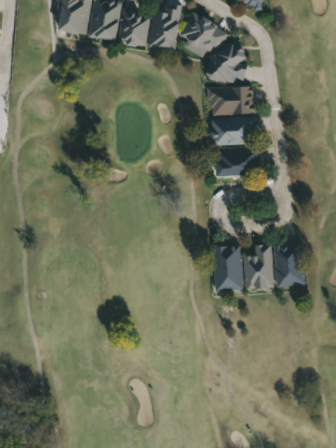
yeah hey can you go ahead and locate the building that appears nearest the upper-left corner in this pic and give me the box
[53,0,90,36]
